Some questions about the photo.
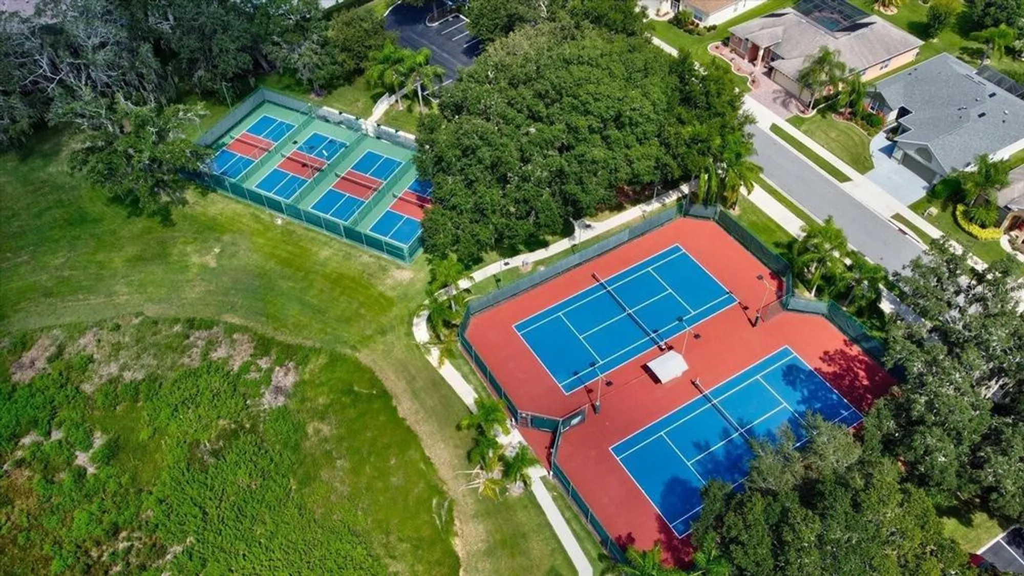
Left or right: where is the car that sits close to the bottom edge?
right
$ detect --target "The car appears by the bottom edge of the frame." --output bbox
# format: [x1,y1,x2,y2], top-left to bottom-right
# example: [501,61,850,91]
[980,555,1020,576]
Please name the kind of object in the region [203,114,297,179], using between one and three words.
sports court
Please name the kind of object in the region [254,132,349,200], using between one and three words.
sports court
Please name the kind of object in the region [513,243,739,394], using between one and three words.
tennis court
